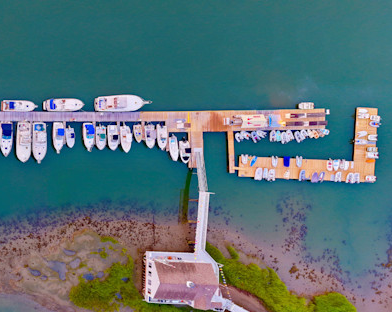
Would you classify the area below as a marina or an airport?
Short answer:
marina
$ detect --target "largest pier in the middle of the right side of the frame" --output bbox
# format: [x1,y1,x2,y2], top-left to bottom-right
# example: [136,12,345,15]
[238,108,378,183]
